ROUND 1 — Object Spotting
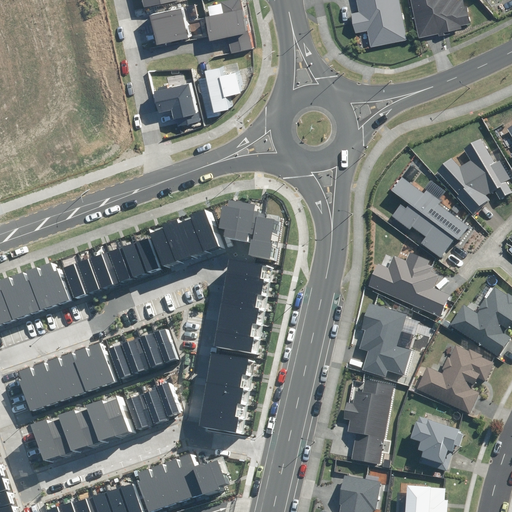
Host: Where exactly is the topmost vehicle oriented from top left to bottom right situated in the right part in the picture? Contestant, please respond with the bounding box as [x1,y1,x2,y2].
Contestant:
[479,204,495,222]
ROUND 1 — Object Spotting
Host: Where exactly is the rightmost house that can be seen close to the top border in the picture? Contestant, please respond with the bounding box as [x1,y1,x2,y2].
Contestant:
[410,0,470,38]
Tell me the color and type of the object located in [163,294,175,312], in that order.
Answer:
white vehicle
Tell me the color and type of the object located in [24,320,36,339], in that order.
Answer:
white vehicle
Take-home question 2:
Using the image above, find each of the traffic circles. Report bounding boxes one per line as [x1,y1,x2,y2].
[292,106,336,150]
